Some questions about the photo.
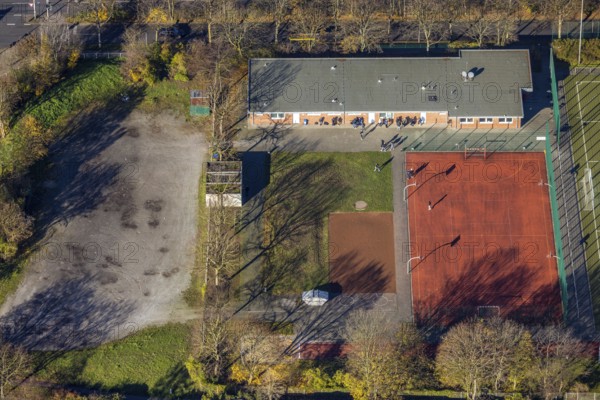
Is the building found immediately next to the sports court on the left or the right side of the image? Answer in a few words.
right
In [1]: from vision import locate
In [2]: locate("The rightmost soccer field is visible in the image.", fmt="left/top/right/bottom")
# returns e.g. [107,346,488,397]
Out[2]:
[565,79,600,363]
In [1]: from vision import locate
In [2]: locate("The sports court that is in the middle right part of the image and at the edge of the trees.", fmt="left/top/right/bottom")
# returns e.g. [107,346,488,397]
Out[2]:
[406,151,565,330]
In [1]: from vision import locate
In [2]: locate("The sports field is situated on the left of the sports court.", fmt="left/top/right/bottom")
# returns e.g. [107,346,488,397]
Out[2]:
[329,212,396,293]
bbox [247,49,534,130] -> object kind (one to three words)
building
